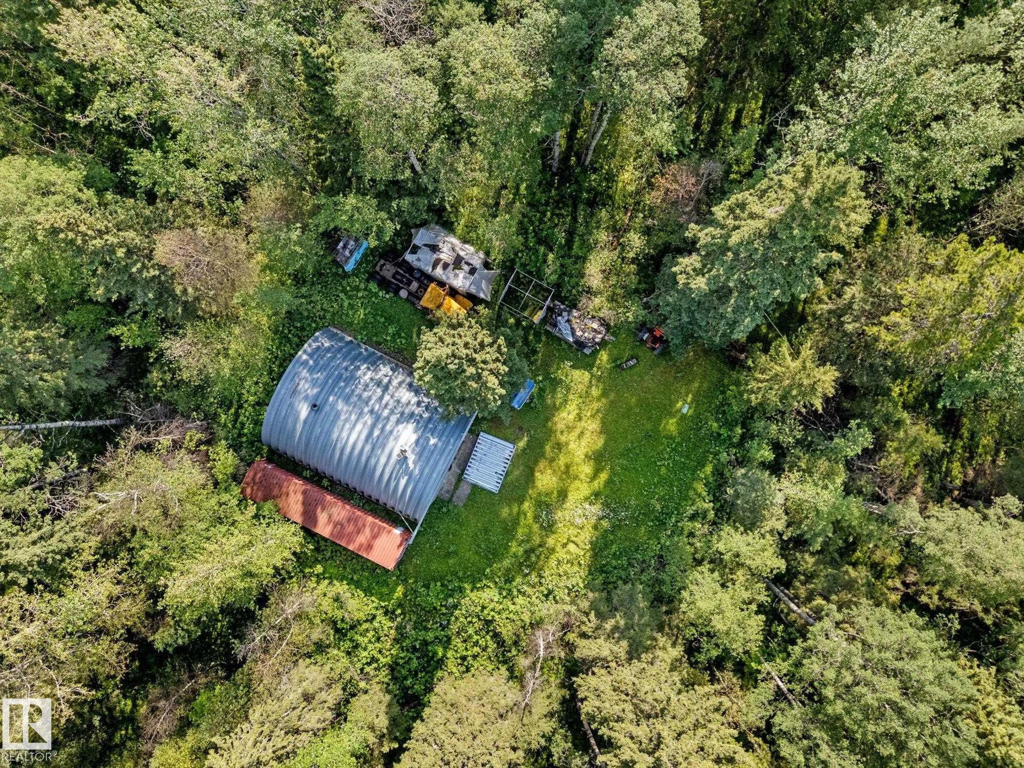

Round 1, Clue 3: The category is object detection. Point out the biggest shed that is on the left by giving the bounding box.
[260,324,475,526]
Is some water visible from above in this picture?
No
